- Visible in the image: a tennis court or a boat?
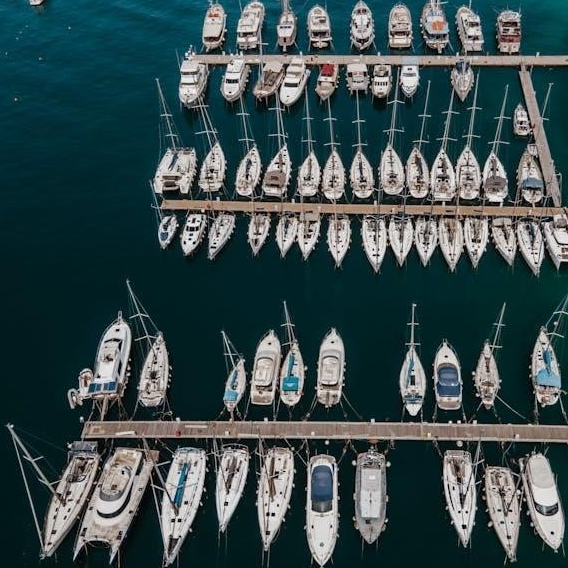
boat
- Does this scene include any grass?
No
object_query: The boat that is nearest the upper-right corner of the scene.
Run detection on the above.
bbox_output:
[495,10,530,54]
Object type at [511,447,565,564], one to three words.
boat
